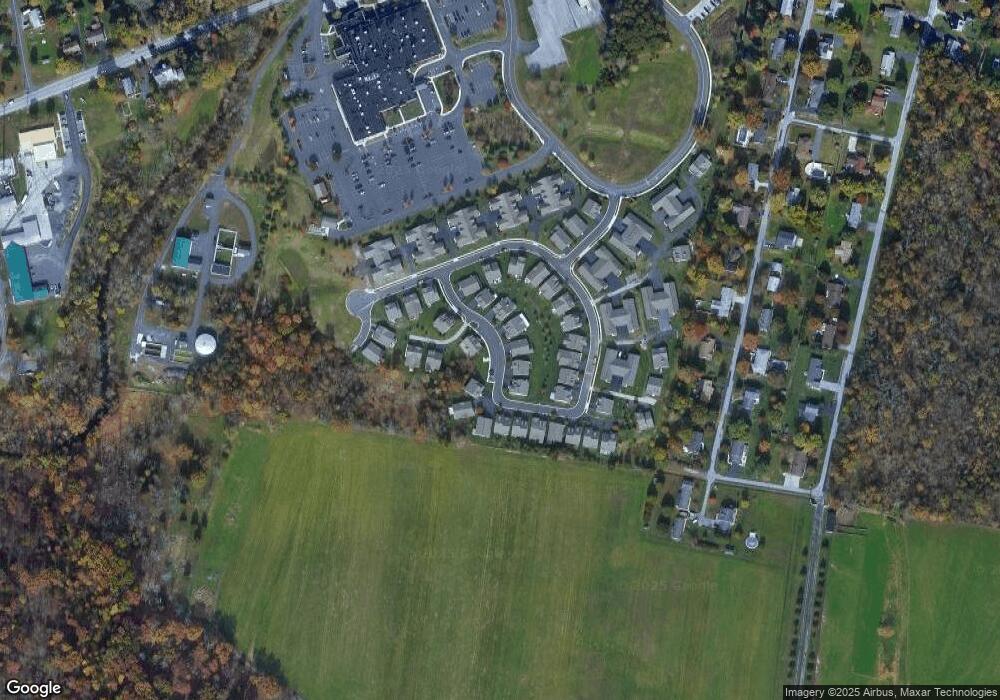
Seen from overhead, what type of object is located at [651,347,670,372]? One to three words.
house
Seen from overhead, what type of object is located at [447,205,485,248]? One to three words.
building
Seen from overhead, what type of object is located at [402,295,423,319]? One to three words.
house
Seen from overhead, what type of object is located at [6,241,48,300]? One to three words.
building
